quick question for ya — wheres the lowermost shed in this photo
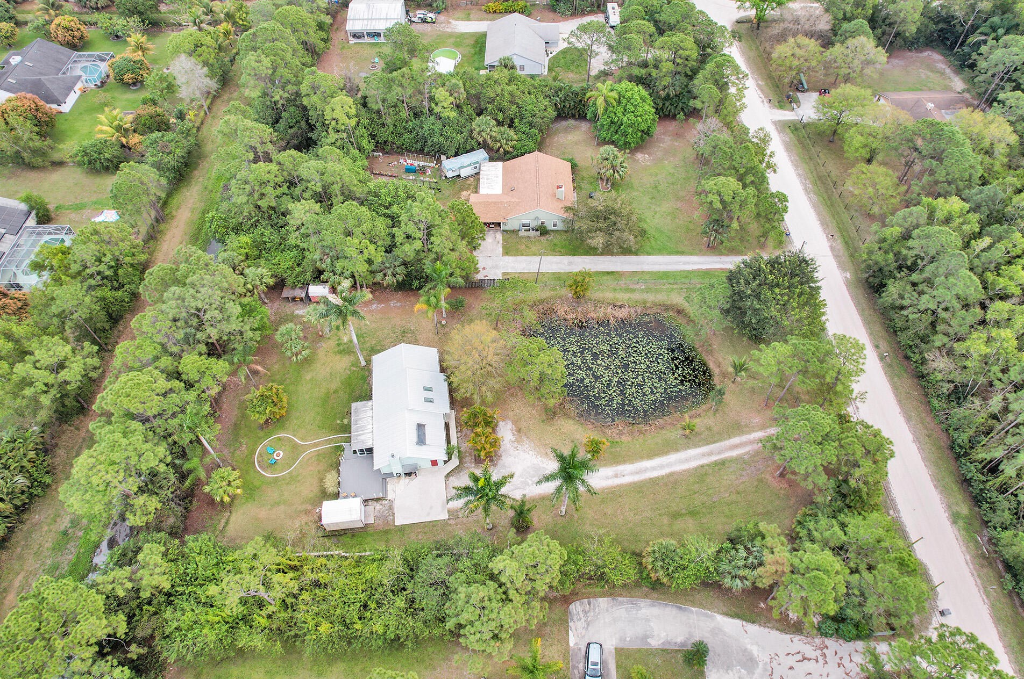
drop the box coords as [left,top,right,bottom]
[323,497,375,530]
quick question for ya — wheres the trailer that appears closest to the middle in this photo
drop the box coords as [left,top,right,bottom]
[443,150,488,179]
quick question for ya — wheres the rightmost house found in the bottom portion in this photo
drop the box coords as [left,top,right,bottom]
[351,342,450,483]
